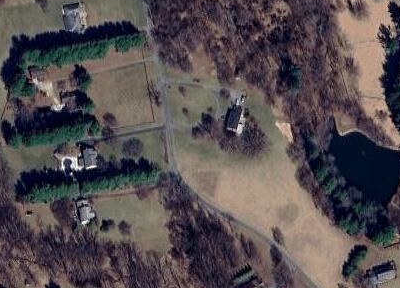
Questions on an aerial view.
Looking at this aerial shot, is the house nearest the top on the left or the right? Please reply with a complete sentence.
The house nearest the top is on the left side of the image.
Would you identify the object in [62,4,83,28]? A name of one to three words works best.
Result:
house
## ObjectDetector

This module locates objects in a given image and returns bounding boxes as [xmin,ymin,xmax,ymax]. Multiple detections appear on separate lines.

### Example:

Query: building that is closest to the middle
[225,100,244,129]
